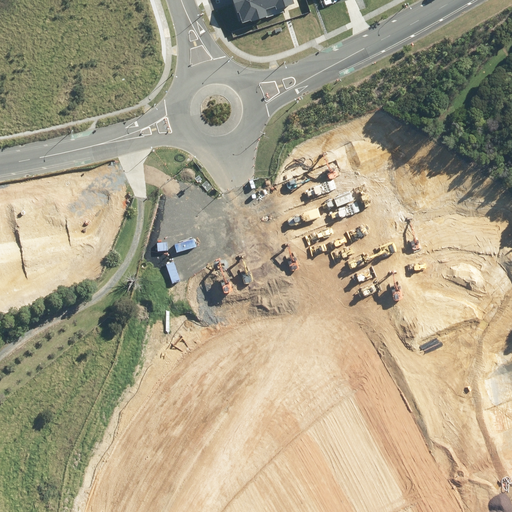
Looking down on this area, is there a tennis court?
No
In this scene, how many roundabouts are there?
1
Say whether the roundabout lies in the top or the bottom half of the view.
top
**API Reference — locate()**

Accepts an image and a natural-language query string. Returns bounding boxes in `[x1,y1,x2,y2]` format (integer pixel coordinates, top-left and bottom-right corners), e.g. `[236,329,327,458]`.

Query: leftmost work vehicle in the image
[216,260,234,296]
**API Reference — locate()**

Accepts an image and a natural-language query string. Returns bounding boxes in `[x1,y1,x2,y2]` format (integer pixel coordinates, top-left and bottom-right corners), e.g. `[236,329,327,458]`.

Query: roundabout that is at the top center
[190,84,243,137]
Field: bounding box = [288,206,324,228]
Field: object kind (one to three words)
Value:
truck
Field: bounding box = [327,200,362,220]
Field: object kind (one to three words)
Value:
vehicle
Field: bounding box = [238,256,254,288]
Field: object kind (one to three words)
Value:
work vehicle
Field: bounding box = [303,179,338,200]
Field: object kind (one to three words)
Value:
vehicle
